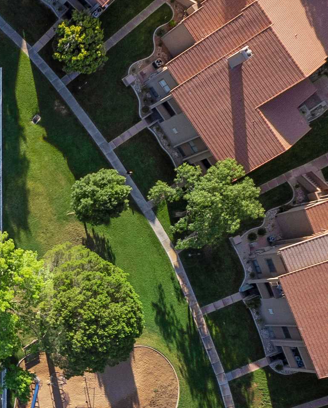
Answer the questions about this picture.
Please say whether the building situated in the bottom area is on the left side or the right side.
right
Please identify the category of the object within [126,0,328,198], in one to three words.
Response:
building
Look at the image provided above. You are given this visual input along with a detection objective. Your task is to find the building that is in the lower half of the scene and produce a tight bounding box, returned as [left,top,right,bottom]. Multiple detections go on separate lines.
[222,172,328,378]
